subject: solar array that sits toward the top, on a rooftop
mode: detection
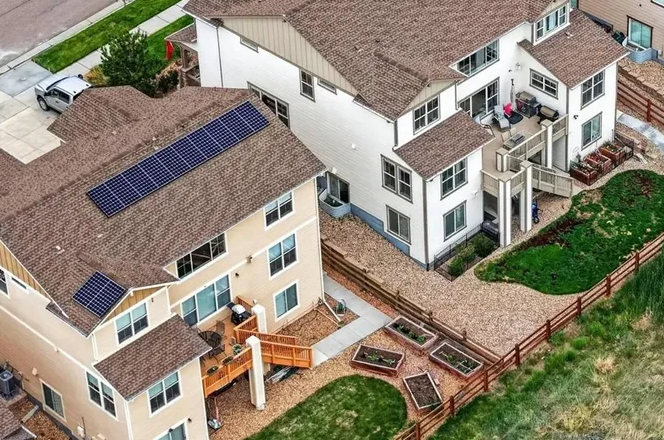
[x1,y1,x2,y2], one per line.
[88,101,269,214]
